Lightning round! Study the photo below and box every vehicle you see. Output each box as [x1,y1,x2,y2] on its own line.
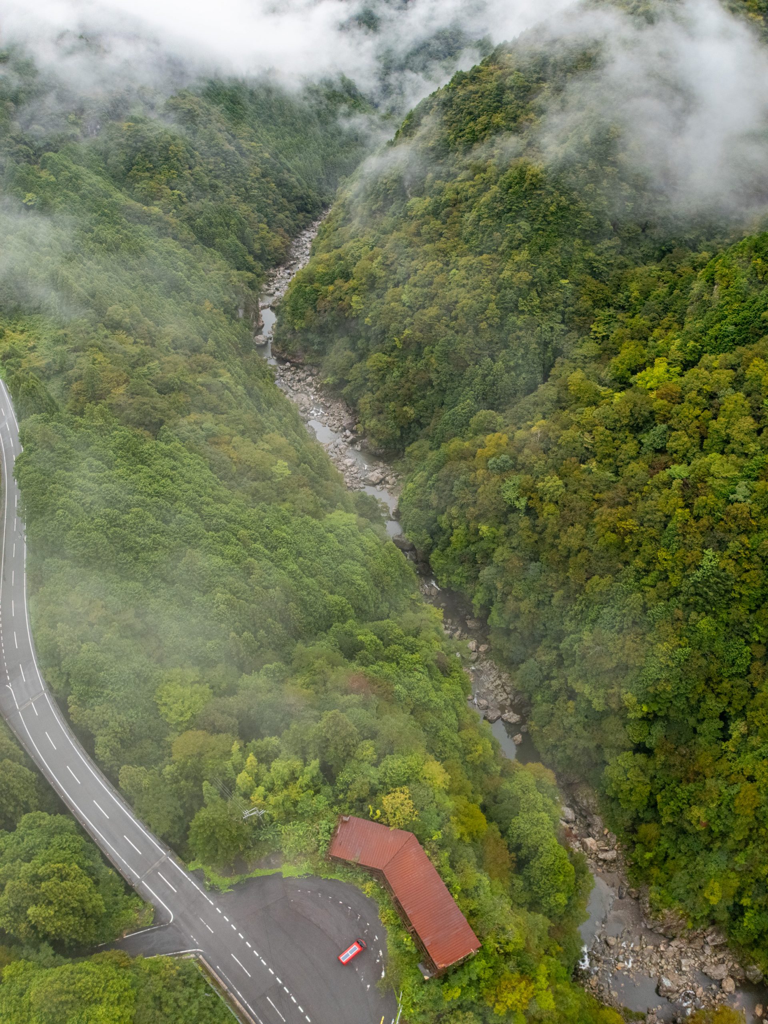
[339,938,367,967]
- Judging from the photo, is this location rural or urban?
rural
